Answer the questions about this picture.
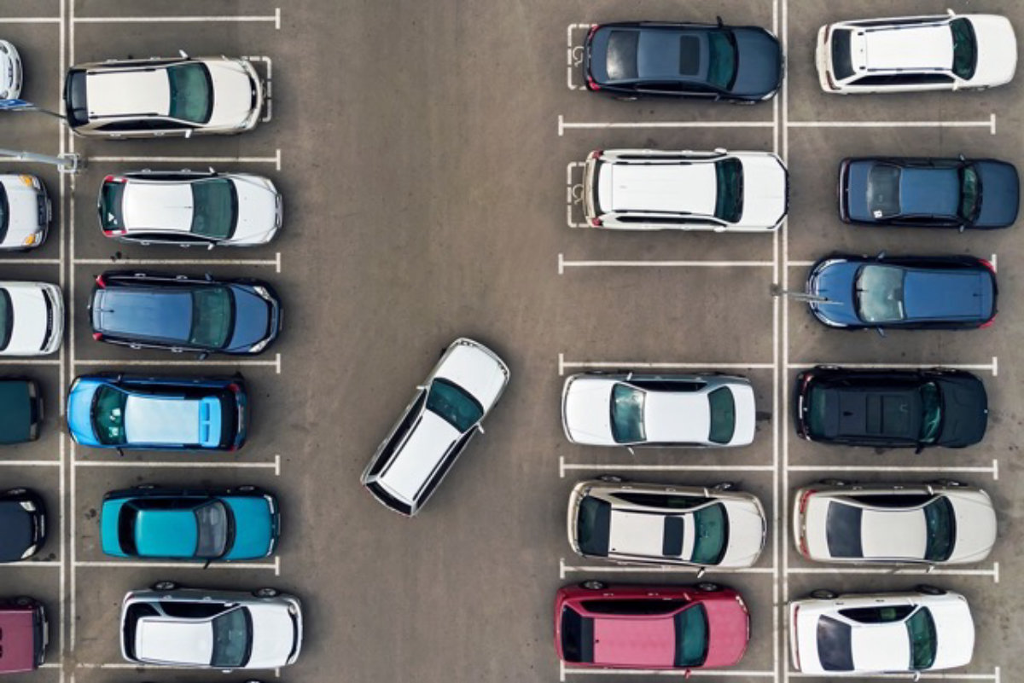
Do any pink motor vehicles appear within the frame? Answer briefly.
Yes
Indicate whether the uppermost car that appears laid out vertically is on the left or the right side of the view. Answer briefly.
left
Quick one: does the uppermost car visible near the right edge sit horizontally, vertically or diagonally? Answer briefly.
horizontally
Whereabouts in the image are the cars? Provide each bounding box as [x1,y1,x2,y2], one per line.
[0,34,26,99]
[98,482,280,570]
[0,369,44,442]
[814,4,1018,94]
[563,367,757,455]
[359,337,510,520]
[0,476,49,558]
[72,47,266,139]
[585,141,789,238]
[0,278,66,355]
[66,371,248,458]
[118,579,304,681]
[585,12,784,104]
[790,589,975,683]
[557,579,751,679]
[569,476,766,578]
[0,583,47,667]
[98,162,282,251]
[793,479,997,575]
[0,175,52,250]
[838,148,1020,235]
[797,361,989,457]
